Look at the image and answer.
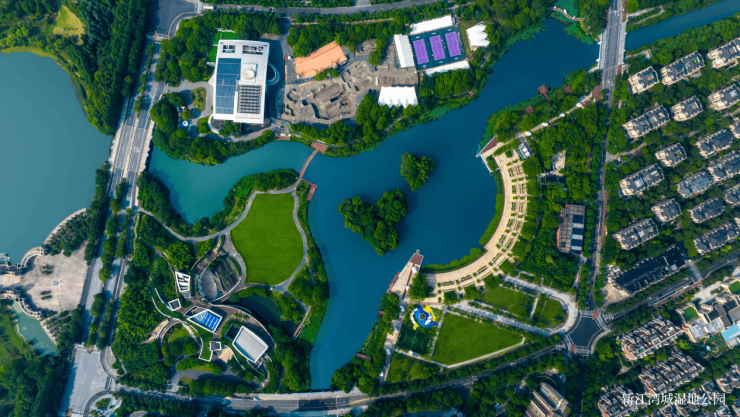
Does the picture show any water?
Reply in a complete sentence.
Yes, the picture does contain water.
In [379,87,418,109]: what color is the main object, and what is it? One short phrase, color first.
white tent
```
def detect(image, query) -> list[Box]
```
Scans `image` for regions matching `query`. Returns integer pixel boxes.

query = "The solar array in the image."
[215,59,241,113]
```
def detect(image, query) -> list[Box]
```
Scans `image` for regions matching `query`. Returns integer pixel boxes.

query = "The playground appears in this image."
[410,305,439,330]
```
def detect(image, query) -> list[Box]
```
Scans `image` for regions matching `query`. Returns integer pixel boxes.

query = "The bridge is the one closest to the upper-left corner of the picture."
[110,109,156,168]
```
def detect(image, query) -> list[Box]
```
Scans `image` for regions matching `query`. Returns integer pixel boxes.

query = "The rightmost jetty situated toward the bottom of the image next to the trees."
[388,249,423,299]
